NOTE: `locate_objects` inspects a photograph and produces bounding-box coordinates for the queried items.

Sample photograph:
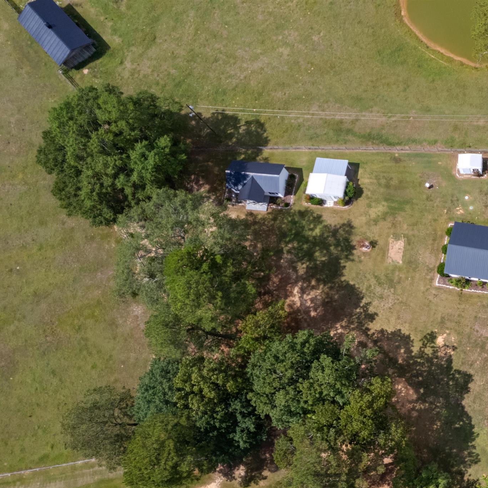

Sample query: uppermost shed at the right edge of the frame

[458,153,483,176]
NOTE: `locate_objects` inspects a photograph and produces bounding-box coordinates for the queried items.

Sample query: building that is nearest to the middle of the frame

[225,160,289,214]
